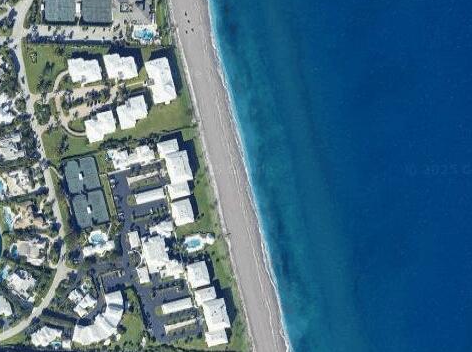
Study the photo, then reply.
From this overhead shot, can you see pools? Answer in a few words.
Yes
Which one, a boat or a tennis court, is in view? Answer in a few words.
tennis court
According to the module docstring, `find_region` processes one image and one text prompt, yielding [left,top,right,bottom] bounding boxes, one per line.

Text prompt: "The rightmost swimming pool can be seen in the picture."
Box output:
[185,236,204,252]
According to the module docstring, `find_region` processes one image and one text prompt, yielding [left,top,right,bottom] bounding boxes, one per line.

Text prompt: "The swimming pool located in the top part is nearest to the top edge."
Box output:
[133,24,157,45]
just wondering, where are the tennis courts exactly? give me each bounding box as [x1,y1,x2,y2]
[71,194,93,228]
[65,160,85,194]
[45,0,60,21]
[60,0,74,22]
[81,0,97,22]
[78,155,102,191]
[87,189,109,224]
